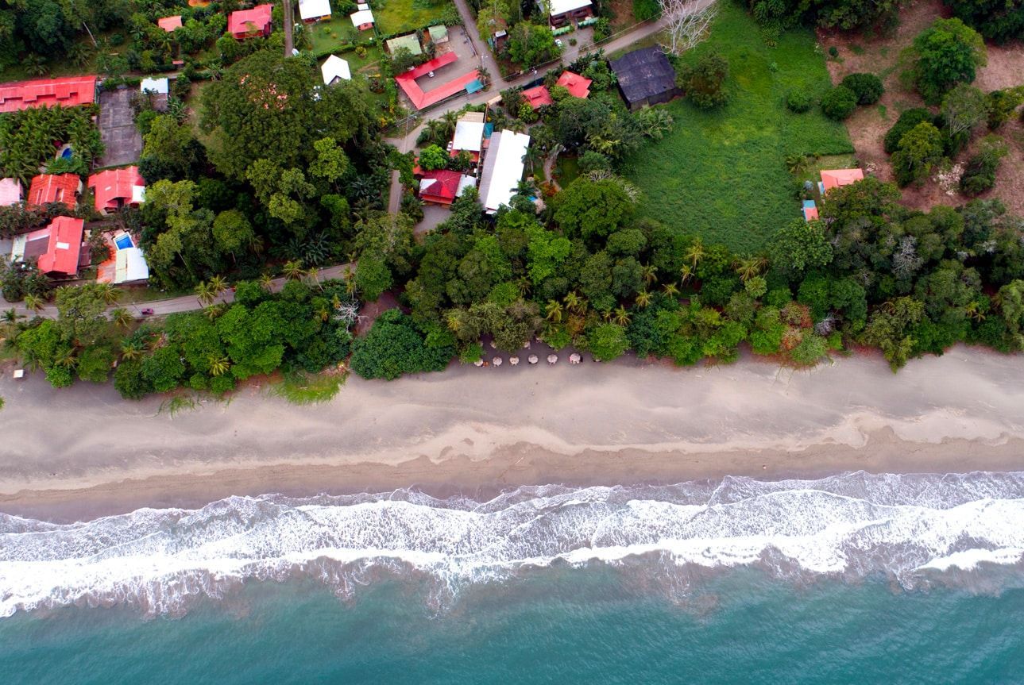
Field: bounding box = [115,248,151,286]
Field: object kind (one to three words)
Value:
shed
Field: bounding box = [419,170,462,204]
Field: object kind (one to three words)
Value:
house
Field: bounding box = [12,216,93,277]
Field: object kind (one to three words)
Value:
house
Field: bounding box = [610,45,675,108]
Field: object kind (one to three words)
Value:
barn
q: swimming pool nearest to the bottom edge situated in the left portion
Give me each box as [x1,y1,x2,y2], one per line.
[115,233,134,249]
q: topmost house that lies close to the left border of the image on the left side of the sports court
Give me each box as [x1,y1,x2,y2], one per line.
[0,75,96,112]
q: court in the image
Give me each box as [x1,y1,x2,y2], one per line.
[95,87,142,167]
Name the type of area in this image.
beach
